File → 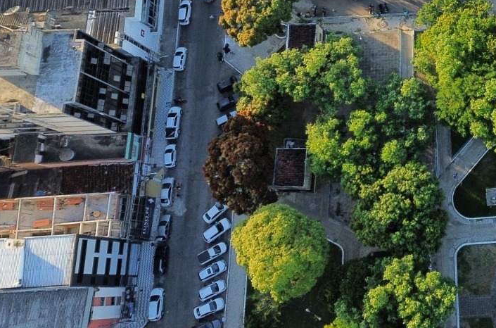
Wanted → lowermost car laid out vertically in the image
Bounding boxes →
[148,288,166,322]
